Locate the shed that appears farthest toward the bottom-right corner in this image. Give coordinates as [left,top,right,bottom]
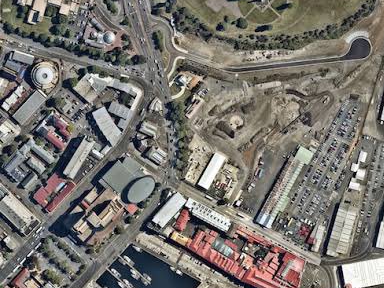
[342,257,384,288]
